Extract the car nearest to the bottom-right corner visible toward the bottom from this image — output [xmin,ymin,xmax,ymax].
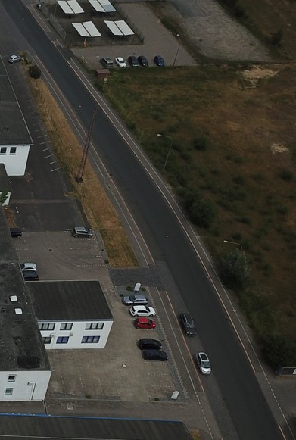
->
[194,351,214,374]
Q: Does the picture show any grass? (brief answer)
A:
Yes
